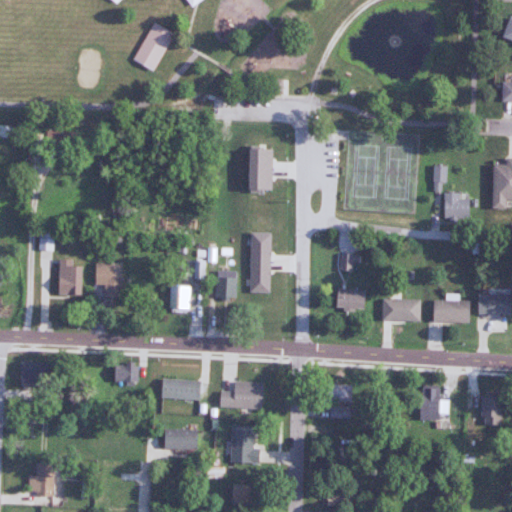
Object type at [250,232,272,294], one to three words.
building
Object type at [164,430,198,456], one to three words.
house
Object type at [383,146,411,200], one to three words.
tennis court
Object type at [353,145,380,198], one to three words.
tennis court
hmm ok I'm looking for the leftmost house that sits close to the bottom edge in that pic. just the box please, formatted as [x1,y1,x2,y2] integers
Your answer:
[28,466,56,498]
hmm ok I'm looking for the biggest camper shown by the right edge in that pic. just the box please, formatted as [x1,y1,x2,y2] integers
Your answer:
[489,320,508,332]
